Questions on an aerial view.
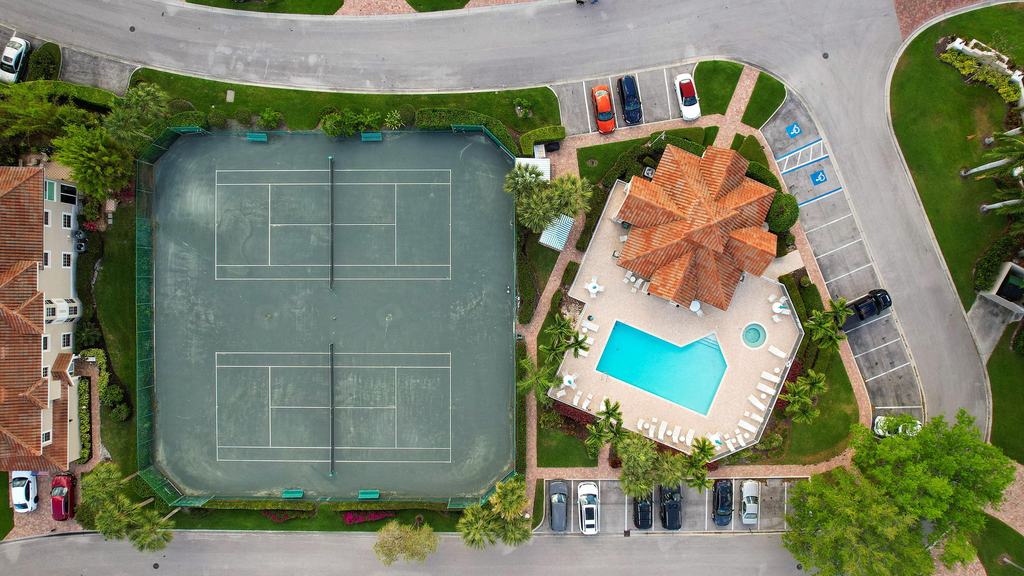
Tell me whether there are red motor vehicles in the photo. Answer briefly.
Yes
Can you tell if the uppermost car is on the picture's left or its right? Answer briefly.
left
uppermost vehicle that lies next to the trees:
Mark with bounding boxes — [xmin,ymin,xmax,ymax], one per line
[0,32,30,79]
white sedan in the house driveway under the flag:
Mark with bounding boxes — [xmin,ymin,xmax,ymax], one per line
[10,472,37,515]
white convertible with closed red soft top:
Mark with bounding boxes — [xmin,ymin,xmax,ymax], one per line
[674,72,702,122]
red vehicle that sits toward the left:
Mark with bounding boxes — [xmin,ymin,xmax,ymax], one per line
[46,472,75,522]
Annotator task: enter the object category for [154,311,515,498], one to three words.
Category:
tennis court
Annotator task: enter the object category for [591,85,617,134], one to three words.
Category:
car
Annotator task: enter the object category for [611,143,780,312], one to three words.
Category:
building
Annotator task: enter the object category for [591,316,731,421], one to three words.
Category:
swimming pool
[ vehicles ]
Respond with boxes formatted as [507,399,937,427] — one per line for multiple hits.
[547,479,570,530]
[738,477,761,524]
[674,72,702,122]
[631,490,654,530]
[46,472,75,522]
[576,479,600,532]
[872,418,922,441]
[657,480,682,531]
[833,293,895,334]
[0,32,30,79]
[10,472,37,515]
[711,477,735,525]
[616,74,644,126]
[591,85,617,134]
